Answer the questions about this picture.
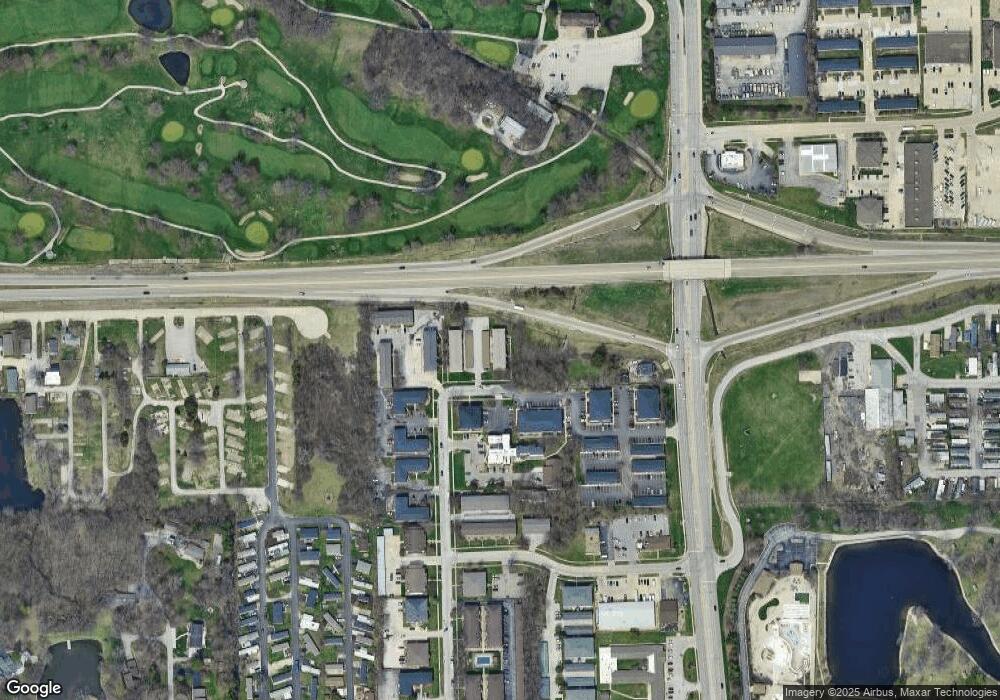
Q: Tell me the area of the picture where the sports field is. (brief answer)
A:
right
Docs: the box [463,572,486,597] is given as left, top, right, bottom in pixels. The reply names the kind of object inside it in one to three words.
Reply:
building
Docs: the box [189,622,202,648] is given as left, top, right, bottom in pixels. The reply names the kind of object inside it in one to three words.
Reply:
house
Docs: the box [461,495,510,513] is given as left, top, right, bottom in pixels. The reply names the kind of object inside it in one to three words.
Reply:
building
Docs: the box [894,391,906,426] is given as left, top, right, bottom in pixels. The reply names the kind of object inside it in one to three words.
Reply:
shed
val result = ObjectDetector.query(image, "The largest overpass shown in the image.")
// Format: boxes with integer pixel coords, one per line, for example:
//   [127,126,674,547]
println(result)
[663,259,732,280]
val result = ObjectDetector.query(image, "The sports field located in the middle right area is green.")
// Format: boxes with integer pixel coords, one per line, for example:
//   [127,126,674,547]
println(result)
[723,350,827,494]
